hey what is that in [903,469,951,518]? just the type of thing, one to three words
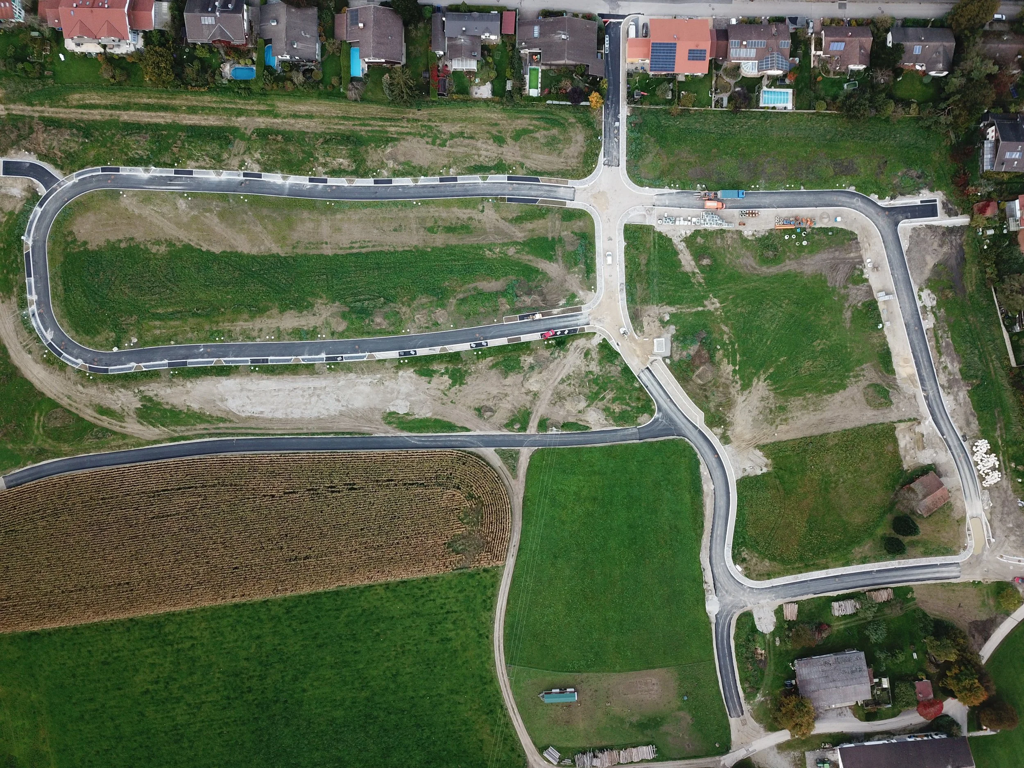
barn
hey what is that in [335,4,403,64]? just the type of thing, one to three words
house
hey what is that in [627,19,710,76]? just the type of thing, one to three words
house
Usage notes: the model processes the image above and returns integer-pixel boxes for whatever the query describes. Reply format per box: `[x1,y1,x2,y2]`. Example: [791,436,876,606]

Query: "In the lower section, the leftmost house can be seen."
[793,648,873,711]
